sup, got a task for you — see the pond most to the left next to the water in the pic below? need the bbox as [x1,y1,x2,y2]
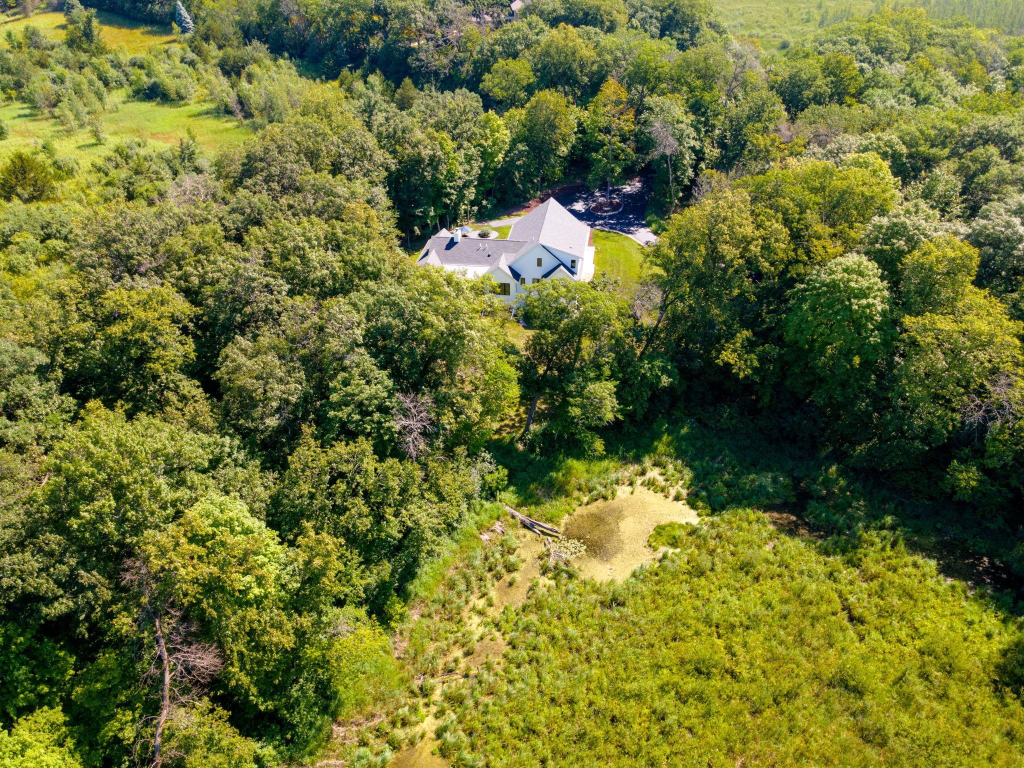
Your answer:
[558,467,698,581]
